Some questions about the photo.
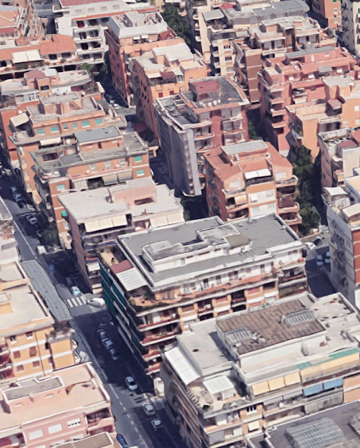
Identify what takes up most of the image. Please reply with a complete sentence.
The bulk of the photo consists of buildings.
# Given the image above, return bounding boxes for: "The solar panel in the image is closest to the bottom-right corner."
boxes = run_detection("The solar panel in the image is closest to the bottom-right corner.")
[282,310,317,331]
